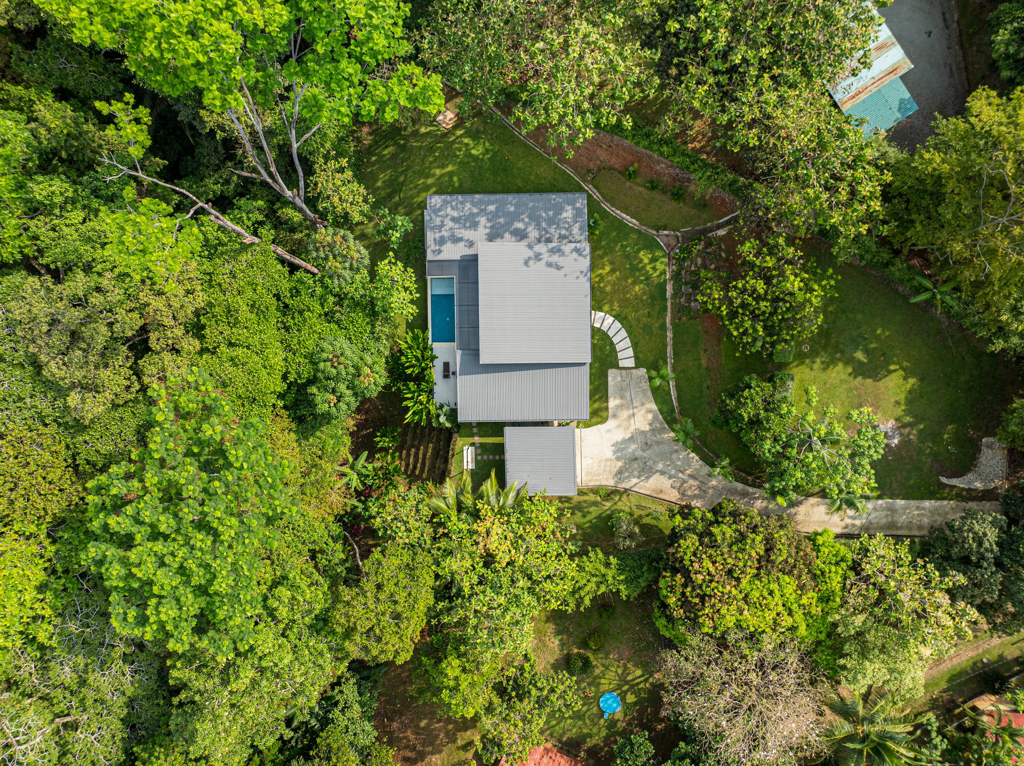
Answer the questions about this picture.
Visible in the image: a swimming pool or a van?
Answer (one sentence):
Visible in the photo is a swimming pool.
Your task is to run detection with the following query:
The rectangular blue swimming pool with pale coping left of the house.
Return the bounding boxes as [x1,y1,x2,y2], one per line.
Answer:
[427,277,456,365]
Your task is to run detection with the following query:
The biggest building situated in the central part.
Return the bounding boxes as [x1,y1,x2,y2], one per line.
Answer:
[424,192,592,423]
